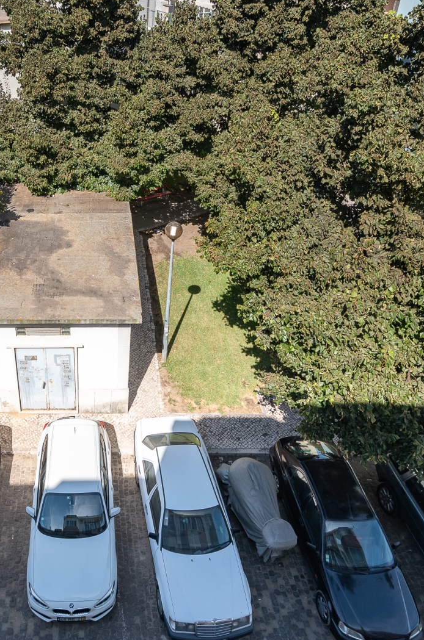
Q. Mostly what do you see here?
trees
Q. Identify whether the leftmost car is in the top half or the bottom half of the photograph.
bottom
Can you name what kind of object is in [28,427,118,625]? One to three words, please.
car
